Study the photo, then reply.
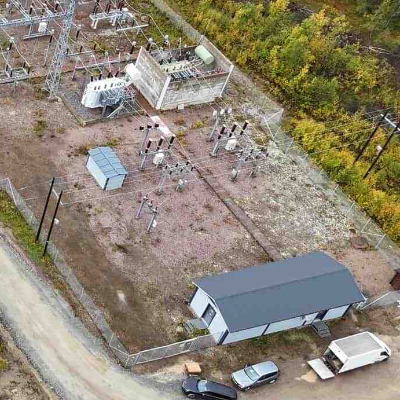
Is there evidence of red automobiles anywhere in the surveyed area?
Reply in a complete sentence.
No, the frame has no red automobile in it.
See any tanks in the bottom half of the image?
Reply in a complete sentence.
No, looking in the bottom half of the image, there is no tank.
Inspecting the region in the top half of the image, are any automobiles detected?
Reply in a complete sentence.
No, no automobile appears in the top half of the image.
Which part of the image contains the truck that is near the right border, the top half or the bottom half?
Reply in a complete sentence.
The bottom half of the photo is where the truck that is near the right border is.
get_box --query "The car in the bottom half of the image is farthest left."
[183,376,242,400]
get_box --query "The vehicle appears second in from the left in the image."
[231,364,286,392]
